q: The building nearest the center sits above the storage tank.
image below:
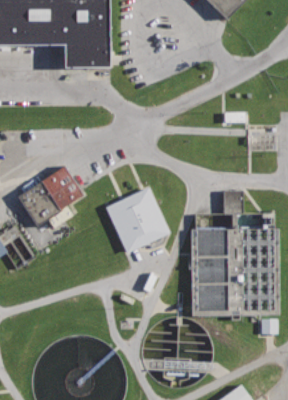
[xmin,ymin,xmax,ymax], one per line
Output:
[106,189,172,252]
